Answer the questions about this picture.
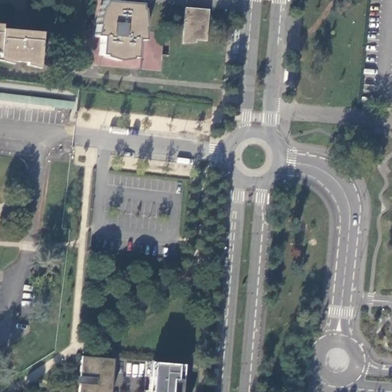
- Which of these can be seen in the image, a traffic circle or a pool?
traffic circle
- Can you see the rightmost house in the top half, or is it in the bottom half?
top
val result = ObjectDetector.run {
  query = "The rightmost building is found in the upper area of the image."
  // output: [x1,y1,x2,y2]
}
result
[182,6,211,44]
